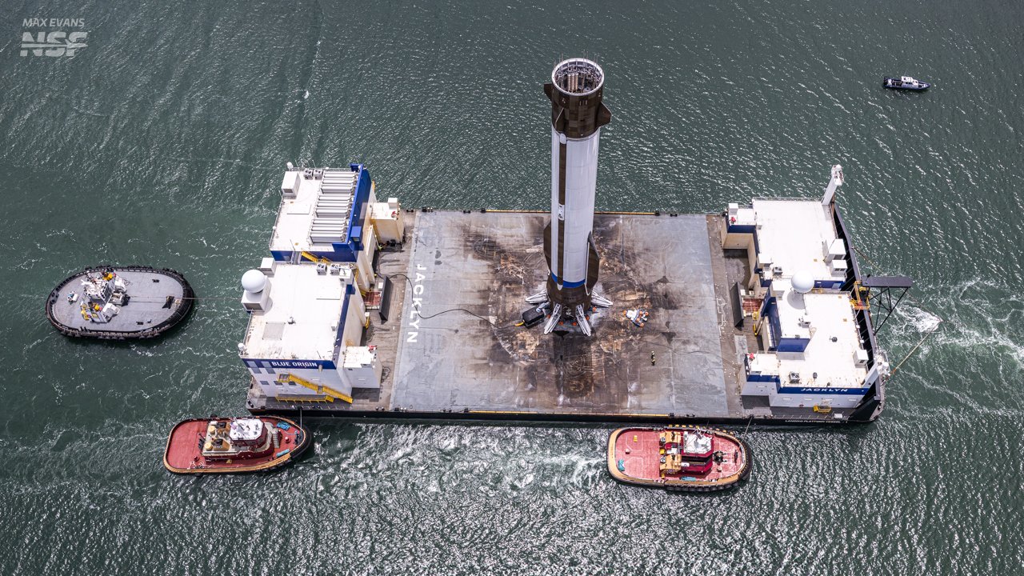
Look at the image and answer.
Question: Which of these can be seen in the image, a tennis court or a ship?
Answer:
ship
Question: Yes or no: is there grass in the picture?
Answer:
No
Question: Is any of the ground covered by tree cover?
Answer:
No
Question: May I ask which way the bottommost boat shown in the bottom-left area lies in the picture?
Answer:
from side to side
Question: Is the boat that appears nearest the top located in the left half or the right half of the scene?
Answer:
right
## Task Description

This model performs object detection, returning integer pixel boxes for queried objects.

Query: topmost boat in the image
[882,69,930,89]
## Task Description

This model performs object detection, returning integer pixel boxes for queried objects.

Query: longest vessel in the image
[238,158,912,429]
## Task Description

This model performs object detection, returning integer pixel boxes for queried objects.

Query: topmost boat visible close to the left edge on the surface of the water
[44,263,195,344]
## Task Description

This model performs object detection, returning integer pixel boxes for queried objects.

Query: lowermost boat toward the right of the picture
[608,423,754,494]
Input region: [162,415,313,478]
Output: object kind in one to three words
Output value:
boat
